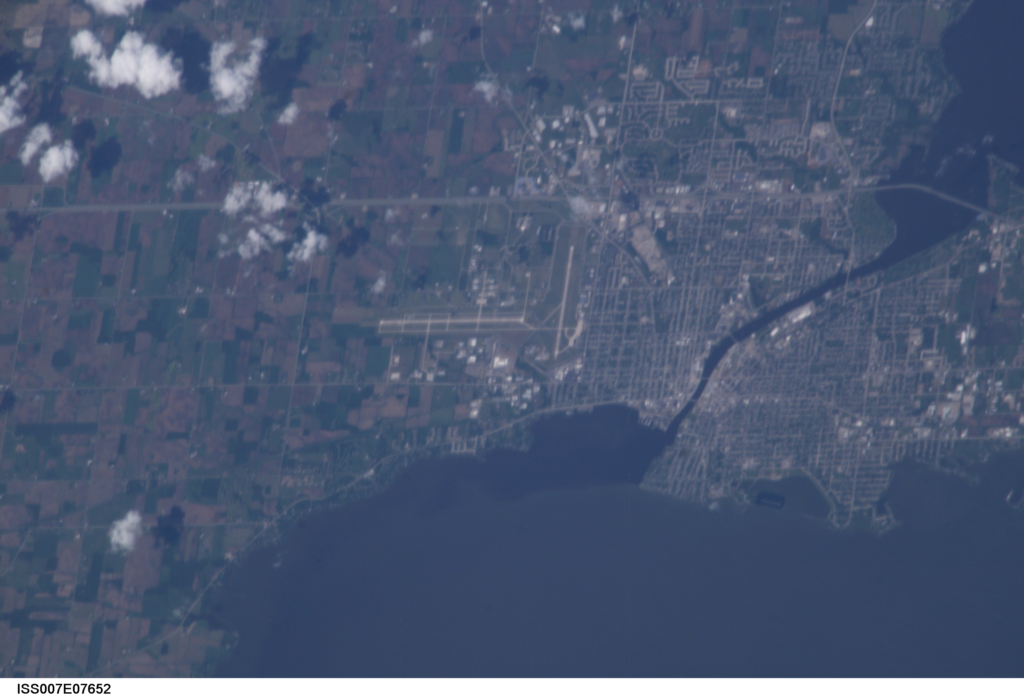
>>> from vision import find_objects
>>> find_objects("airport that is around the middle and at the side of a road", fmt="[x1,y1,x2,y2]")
[378,228,586,370]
